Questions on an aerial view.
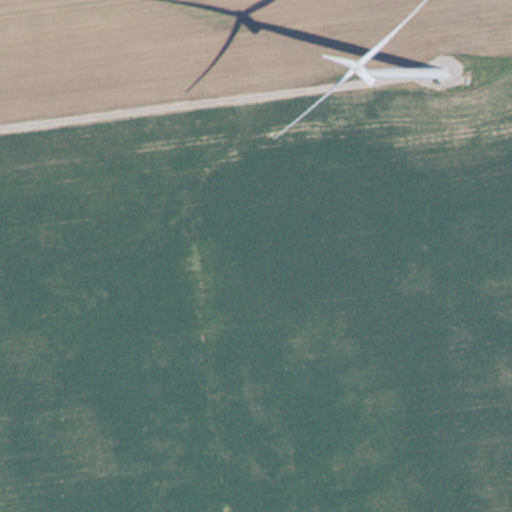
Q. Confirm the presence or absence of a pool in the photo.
No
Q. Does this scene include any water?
No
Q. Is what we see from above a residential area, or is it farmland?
farmland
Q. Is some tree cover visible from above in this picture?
No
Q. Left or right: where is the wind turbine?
right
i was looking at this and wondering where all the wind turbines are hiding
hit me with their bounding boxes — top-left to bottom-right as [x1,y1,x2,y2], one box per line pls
[275,0,452,138]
